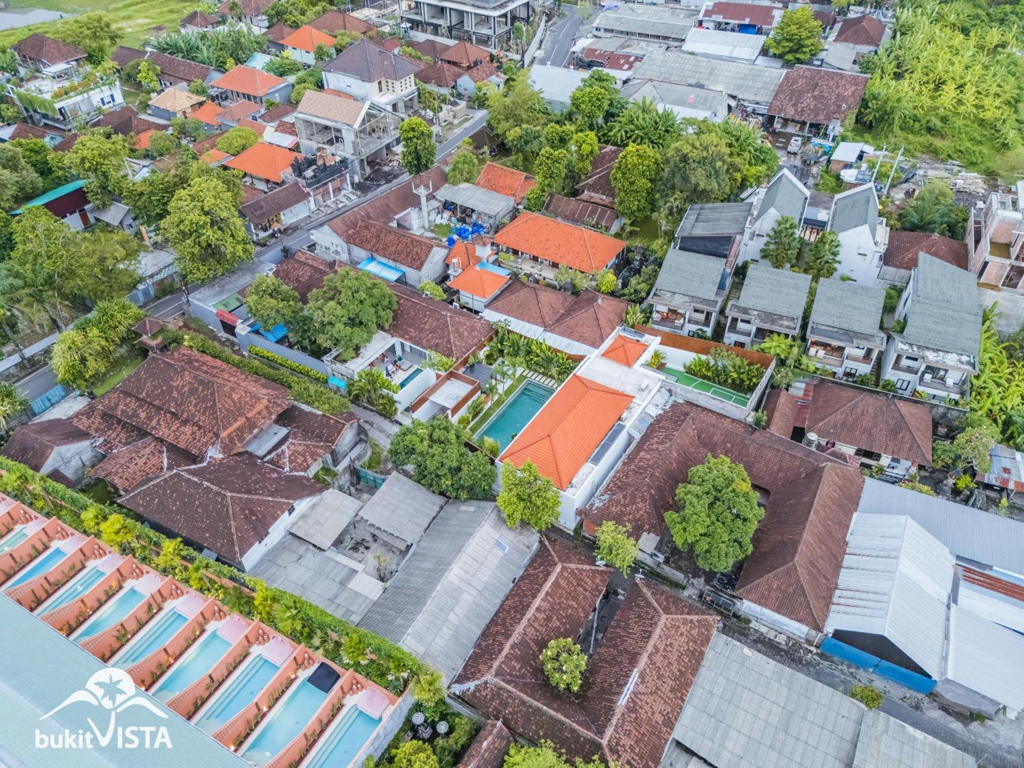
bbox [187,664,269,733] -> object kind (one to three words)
swimming pool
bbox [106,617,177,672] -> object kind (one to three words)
swimming pool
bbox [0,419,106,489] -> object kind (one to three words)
house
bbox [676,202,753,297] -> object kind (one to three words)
building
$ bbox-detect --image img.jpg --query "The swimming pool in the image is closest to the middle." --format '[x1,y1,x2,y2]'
[474,378,556,450]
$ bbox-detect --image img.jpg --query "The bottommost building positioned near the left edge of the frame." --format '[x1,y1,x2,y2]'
[0,589,262,768]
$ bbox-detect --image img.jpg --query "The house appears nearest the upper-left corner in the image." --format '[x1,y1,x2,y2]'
[13,32,88,79]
